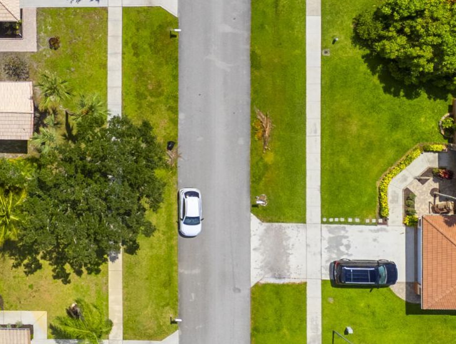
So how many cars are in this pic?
2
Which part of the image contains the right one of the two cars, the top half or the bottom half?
bottom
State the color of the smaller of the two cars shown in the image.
white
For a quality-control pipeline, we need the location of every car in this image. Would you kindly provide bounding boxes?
[329,261,397,290]
[178,188,205,238]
